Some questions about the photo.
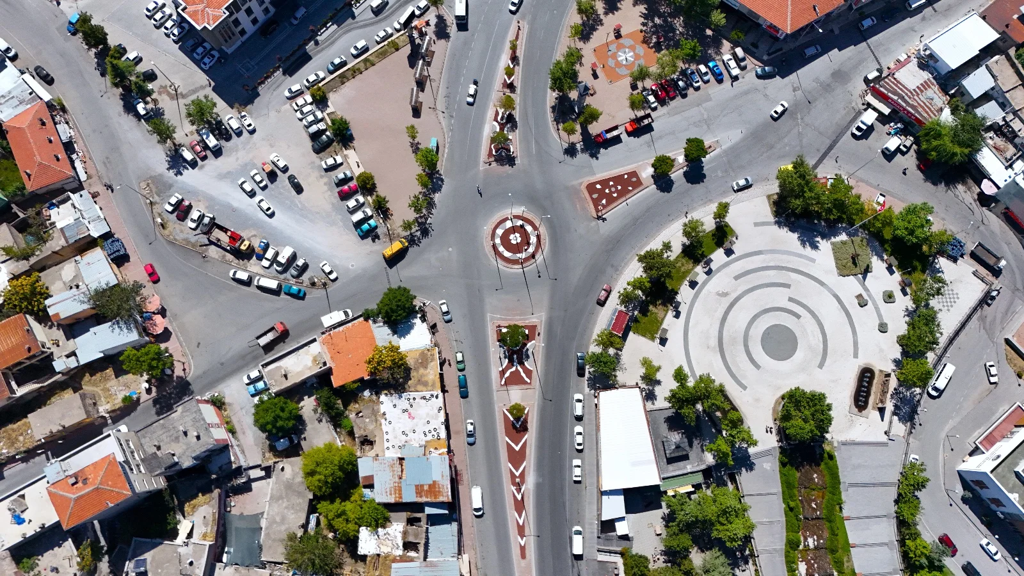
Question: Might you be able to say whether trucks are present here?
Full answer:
Yes, there is a truck in the image.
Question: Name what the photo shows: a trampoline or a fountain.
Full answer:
There is a fountain in the scene.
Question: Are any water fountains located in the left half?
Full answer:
No, no water fountain can be made out in the left half.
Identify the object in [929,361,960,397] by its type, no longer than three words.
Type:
vehicle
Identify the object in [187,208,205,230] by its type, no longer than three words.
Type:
car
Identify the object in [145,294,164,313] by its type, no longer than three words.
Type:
umbrella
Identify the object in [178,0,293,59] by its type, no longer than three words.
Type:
building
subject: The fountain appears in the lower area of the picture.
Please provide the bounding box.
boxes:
[849,365,878,418]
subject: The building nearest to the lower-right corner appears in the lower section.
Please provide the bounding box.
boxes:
[958,402,1024,541]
